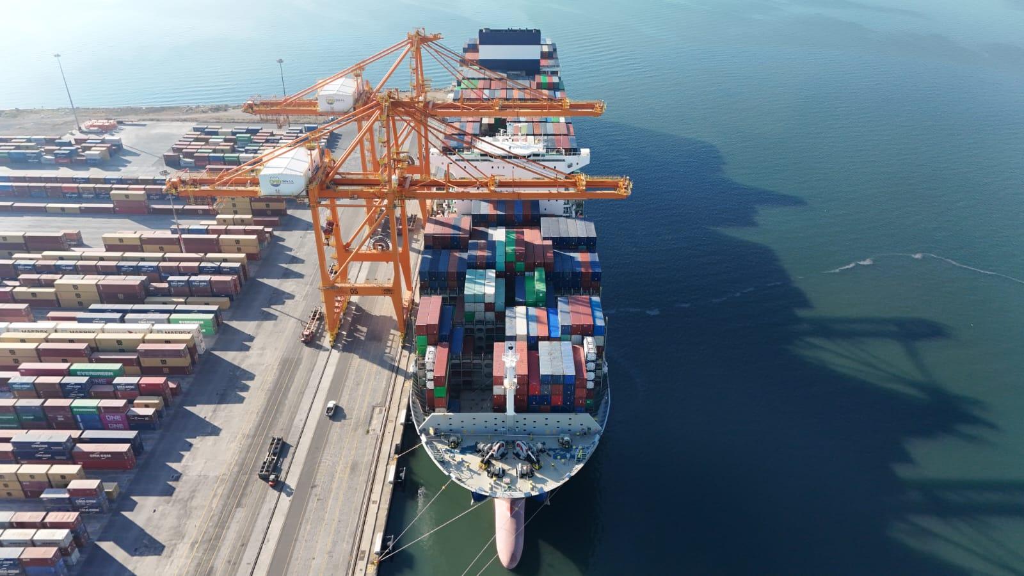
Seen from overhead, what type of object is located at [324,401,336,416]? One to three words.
vehicle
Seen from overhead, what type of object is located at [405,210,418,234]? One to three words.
vehicle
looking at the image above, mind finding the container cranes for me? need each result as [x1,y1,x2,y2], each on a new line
[242,22,605,241]
[162,82,634,356]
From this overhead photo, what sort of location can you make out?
port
